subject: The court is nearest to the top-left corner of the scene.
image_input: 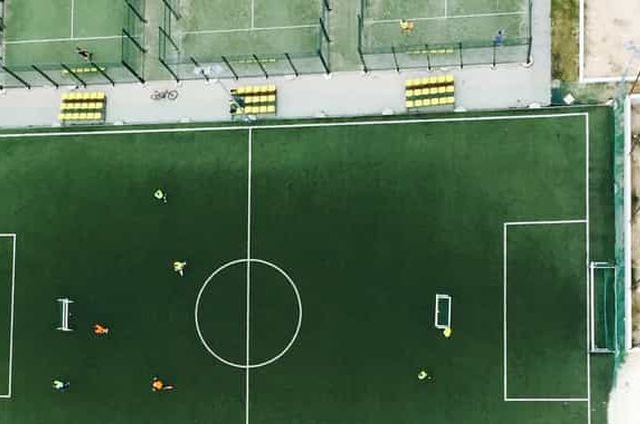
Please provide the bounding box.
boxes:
[1,0,145,87]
